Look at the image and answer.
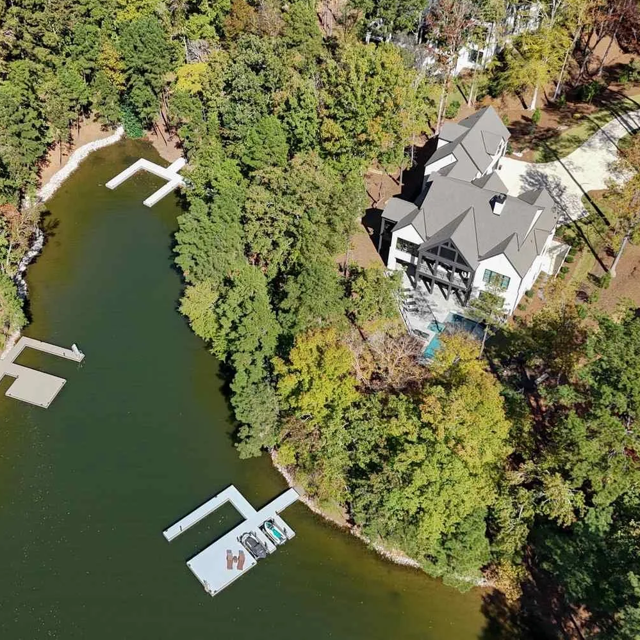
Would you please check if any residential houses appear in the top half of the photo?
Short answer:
Yes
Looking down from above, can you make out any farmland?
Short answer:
No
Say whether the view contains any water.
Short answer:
Yes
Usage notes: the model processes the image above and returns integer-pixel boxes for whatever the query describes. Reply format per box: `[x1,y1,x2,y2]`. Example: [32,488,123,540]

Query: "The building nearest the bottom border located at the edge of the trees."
[379,101,568,314]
